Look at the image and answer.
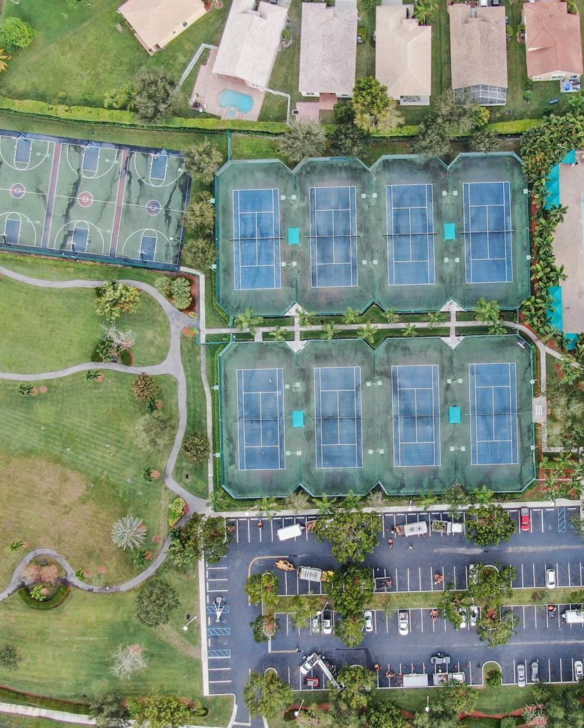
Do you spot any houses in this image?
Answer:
Yes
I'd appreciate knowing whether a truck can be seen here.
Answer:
Yes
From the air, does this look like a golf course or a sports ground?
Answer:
sports ground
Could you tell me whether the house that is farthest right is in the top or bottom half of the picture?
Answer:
top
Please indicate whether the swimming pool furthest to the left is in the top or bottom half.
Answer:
top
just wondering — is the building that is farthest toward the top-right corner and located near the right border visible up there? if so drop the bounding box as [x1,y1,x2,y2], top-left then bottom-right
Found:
[522,0,583,82]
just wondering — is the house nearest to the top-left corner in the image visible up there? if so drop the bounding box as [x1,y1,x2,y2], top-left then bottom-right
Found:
[119,0,207,55]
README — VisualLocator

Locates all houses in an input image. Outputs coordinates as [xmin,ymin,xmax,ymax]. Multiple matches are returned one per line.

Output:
[298,2,357,100]
[447,3,507,90]
[522,0,583,82]
[119,0,207,55]
[212,0,288,92]
[375,4,431,102]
